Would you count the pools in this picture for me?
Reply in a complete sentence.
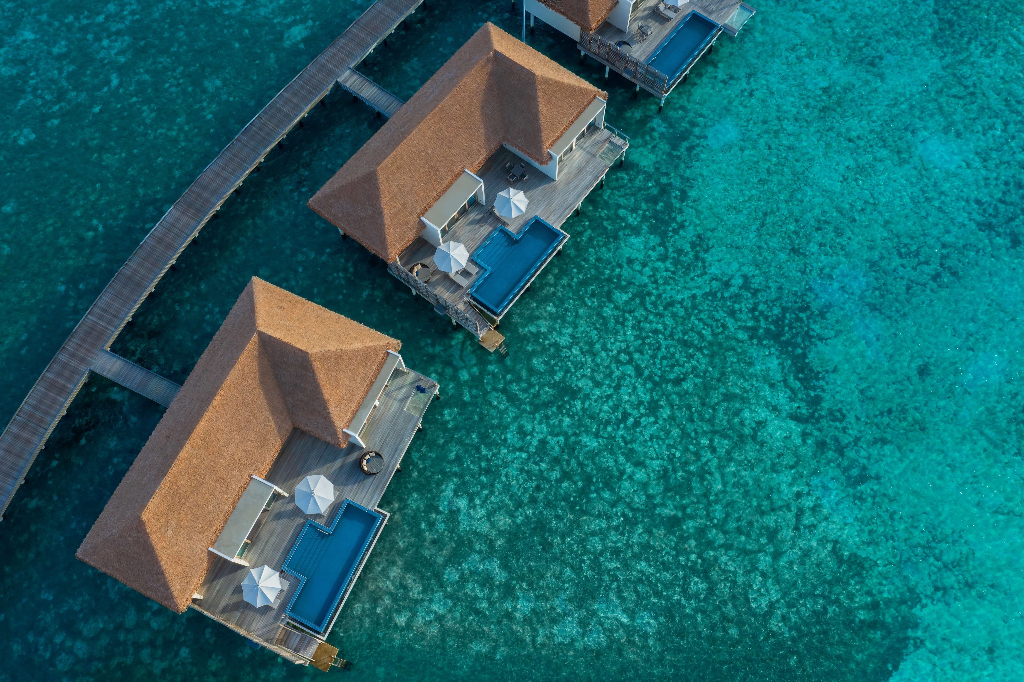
The number of pools here is 3.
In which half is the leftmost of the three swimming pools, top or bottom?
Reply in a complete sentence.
Seen from above, the leftmost of the three swimming pools lies in the bottom half of the view.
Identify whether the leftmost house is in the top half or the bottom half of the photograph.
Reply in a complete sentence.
The leftmost house is in the bottom half of the image.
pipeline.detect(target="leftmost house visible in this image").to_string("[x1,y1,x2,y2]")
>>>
[73,276,406,614]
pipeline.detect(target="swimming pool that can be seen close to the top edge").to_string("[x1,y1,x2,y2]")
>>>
[635,10,724,127]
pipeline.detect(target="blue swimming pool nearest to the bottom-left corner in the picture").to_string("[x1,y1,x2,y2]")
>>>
[281,498,393,641]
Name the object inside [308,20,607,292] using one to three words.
house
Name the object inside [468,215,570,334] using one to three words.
swimming pool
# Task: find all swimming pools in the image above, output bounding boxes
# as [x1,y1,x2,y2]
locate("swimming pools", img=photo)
[281,498,393,641]
[468,215,570,334]
[635,10,724,127]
